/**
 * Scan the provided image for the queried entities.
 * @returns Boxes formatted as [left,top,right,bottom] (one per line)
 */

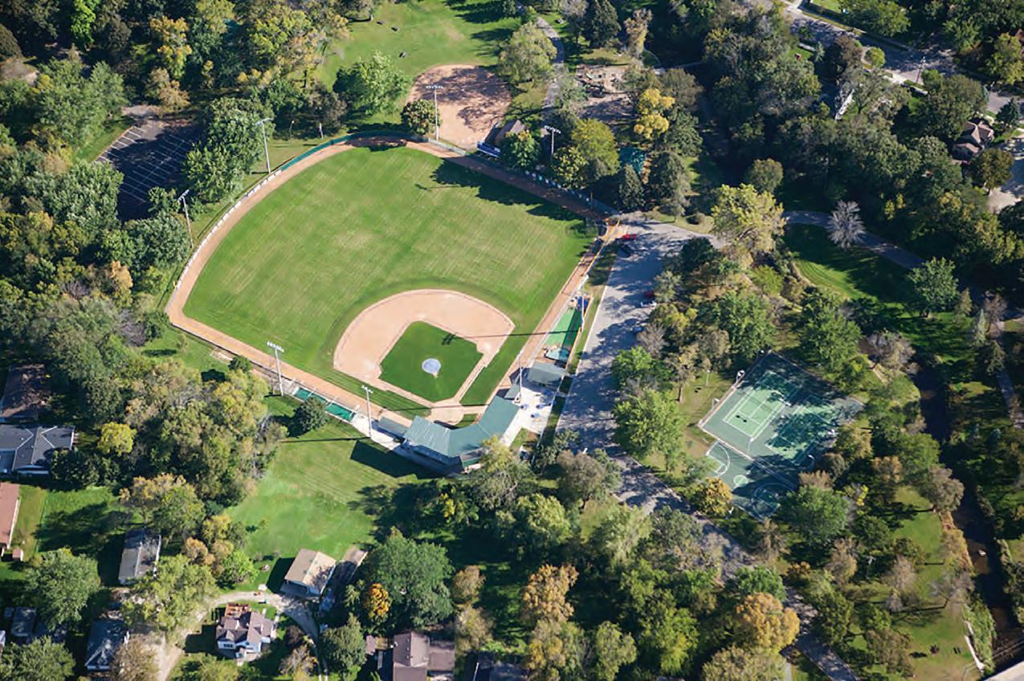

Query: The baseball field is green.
[166,131,619,430]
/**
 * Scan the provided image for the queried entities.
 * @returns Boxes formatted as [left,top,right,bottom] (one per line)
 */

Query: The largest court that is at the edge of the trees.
[699,351,863,484]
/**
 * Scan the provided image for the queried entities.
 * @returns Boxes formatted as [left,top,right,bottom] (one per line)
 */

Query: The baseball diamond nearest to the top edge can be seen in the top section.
[407,65,512,151]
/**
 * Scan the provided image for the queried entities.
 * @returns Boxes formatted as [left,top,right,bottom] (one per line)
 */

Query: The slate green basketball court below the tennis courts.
[690,441,793,522]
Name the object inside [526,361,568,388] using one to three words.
building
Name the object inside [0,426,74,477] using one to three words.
house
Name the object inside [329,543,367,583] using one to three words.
shed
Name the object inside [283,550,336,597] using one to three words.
building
